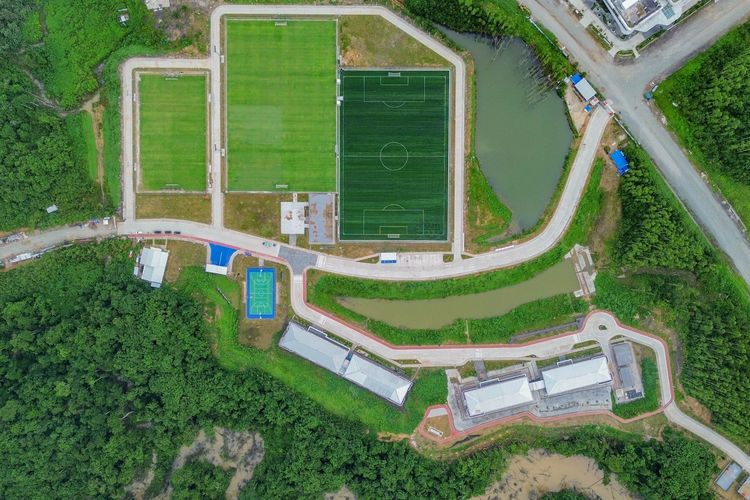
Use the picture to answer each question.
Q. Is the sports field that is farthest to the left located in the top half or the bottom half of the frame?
top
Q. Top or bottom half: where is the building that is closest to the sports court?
bottom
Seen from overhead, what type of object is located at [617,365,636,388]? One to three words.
building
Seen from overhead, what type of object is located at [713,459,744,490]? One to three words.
building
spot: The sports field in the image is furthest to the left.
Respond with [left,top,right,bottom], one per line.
[138,73,208,192]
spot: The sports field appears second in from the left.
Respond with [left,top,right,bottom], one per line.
[226,19,337,192]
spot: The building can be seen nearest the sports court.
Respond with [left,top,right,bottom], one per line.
[278,320,350,375]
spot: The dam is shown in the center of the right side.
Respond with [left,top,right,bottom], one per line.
[565,244,598,297]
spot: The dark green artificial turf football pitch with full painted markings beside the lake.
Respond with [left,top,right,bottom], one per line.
[339,70,450,242]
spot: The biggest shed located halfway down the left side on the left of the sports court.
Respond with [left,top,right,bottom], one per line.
[140,247,168,288]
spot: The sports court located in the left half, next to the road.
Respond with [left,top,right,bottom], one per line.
[246,267,275,319]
